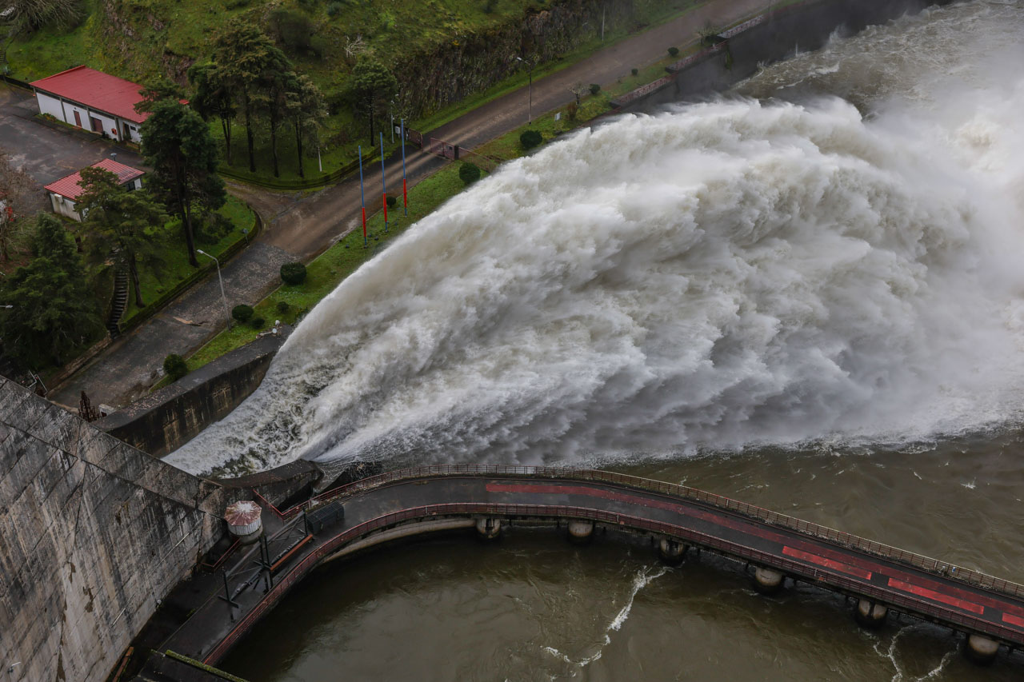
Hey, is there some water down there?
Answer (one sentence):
Yes, there is water in the image.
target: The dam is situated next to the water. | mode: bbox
[0,373,231,682]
